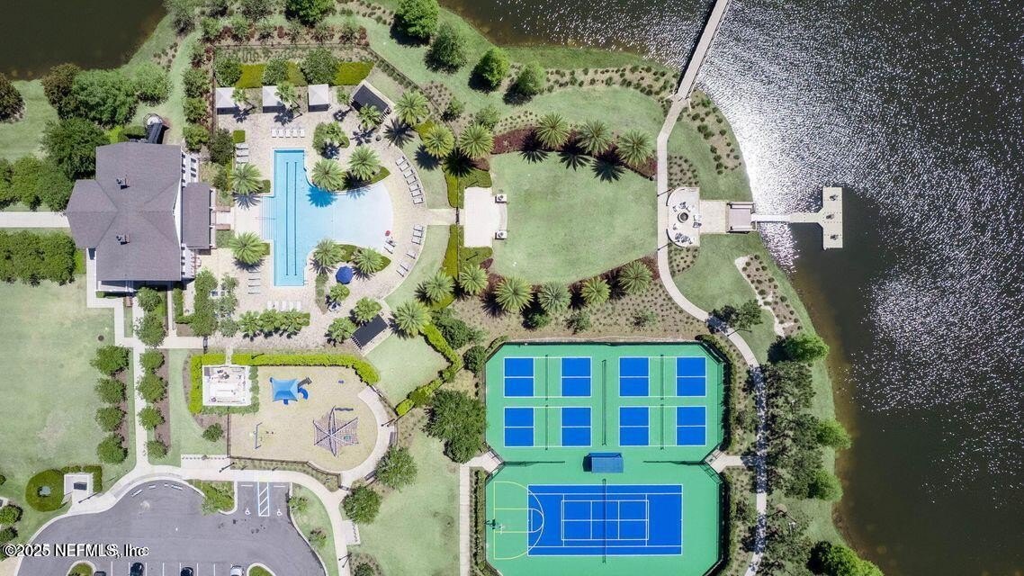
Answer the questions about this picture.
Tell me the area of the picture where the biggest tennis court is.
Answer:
bottom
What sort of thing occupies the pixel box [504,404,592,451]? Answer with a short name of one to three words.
sports court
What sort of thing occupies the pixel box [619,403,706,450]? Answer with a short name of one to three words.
sports court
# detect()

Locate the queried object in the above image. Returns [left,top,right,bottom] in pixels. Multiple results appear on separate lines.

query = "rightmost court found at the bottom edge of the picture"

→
[528,478,682,565]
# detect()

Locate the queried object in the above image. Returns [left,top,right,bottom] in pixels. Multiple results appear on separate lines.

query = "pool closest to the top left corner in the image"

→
[256,147,395,288]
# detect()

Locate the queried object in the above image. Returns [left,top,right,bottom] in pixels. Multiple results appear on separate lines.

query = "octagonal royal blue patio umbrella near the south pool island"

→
[336,266,353,283]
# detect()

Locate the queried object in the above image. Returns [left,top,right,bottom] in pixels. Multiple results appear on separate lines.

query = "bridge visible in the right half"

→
[674,0,735,97]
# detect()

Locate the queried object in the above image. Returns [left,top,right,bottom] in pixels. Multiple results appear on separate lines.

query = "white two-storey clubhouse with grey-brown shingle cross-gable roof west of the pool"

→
[66,142,223,293]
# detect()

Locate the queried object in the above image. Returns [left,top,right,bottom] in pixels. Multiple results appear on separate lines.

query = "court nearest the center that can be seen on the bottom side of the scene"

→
[504,353,592,401]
